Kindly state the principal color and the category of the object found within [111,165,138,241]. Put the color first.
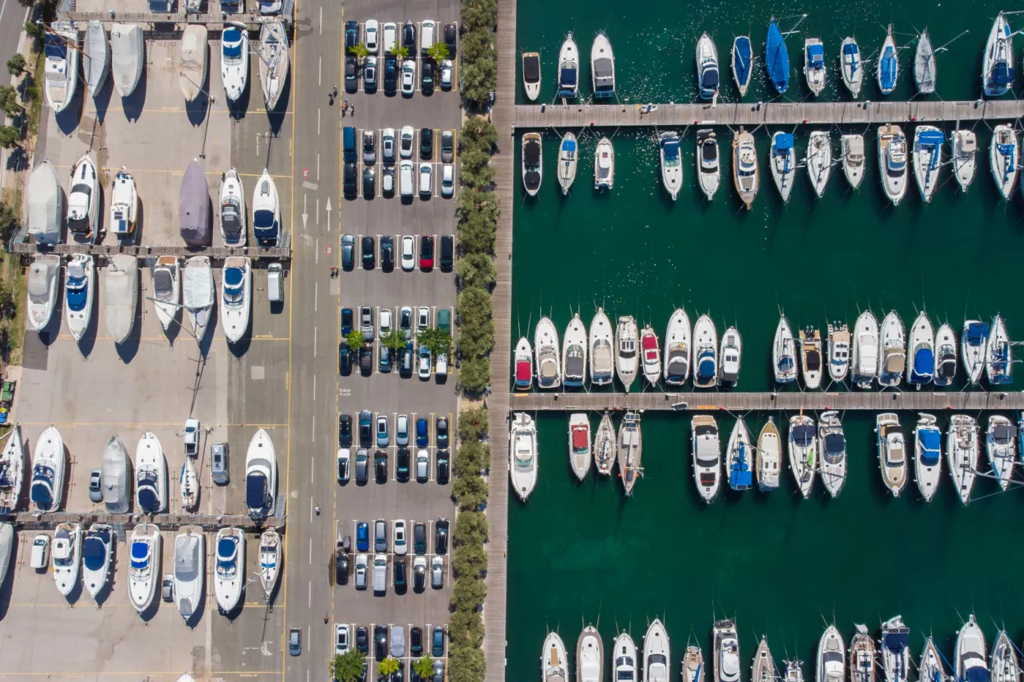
white boat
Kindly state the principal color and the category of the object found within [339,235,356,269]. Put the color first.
blue car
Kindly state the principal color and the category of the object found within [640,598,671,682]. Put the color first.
white boat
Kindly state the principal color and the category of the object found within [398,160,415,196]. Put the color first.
white vehicle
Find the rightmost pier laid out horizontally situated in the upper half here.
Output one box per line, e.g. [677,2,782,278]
[516,100,1024,128]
